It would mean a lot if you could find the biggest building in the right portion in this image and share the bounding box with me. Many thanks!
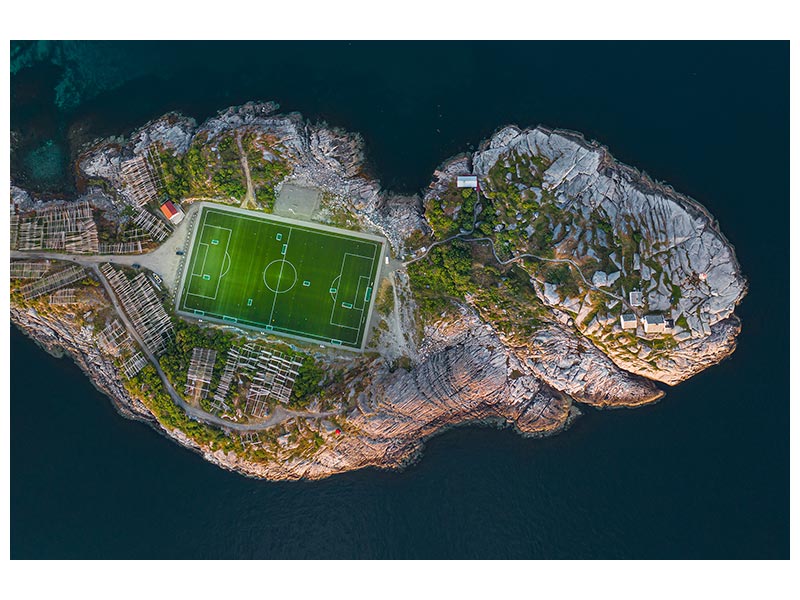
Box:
[638,314,673,341]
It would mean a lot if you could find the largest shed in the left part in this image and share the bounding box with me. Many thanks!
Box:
[162,202,188,227]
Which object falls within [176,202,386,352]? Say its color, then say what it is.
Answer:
green soccer field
